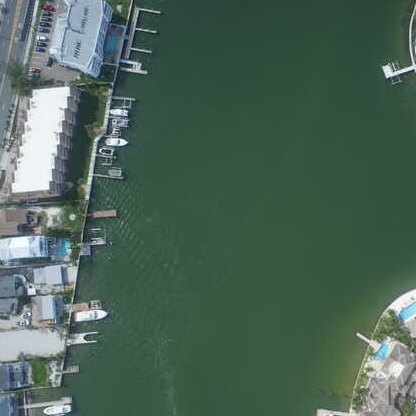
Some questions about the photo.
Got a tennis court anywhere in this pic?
No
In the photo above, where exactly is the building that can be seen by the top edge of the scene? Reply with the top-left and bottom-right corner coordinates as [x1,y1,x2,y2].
[50,0,118,77]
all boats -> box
[110,171,122,176]
[110,110,129,116]
[73,310,109,322]
[105,139,129,146]
[99,148,115,155]
[112,119,129,126]
[43,406,73,414]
